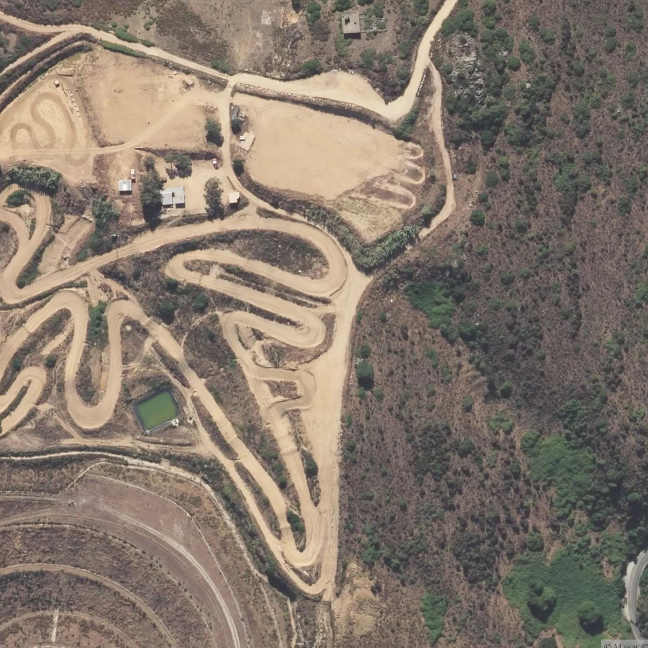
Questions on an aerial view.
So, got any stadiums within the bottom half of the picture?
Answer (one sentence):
No, I can find no stadium within the bottom half of the picture.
